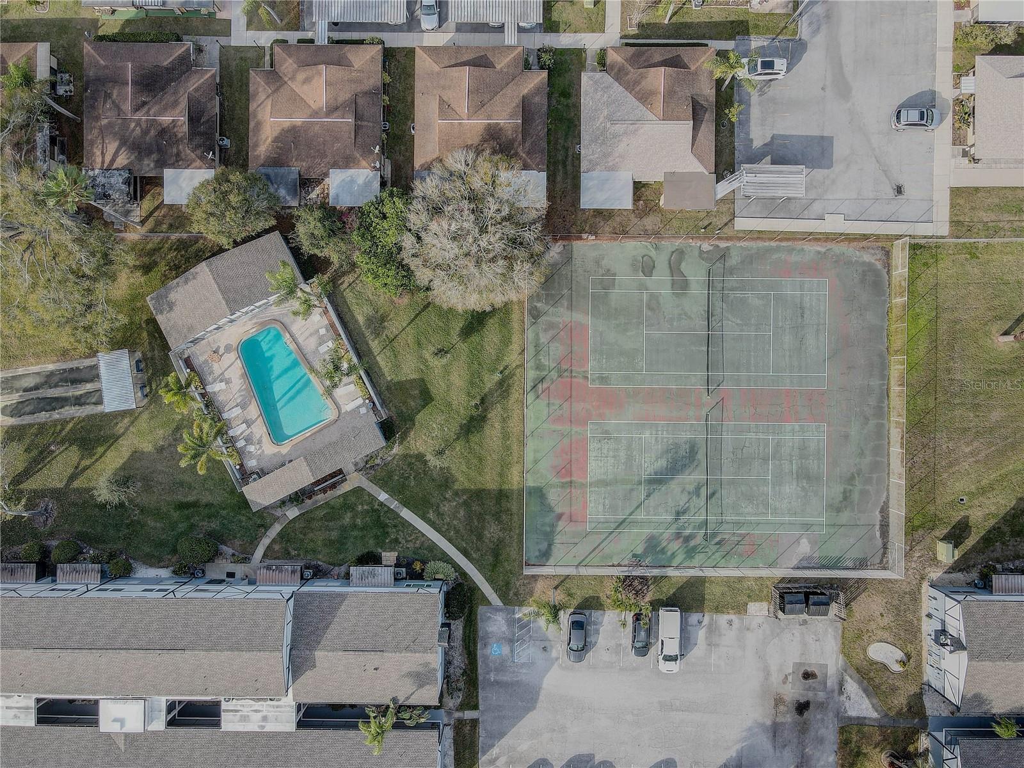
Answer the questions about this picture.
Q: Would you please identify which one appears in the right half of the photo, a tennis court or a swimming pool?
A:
tennis court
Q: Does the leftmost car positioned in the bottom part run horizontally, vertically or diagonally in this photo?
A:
vertically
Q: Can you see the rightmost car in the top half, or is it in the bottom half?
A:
top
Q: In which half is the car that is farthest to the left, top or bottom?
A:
top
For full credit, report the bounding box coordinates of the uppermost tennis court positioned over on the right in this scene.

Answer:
[525,243,889,404]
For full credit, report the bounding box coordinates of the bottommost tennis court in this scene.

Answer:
[525,404,889,568]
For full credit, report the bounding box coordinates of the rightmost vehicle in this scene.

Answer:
[890,107,938,131]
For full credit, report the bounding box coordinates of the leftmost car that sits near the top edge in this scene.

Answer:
[417,0,440,30]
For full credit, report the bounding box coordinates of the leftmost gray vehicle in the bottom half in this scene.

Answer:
[566,612,589,662]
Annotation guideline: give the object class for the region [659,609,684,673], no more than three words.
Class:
truck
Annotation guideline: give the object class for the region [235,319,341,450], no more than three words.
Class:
swimming pool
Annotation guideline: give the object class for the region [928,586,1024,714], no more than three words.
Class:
building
